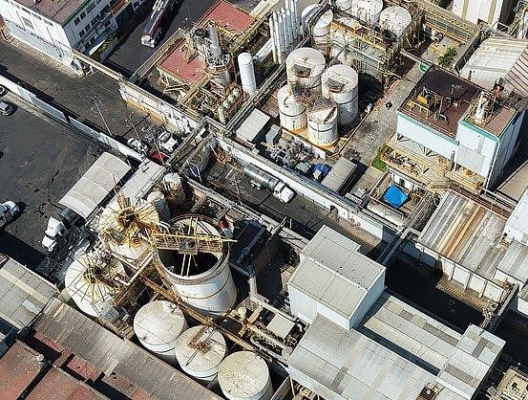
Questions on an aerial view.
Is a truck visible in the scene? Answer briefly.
Yes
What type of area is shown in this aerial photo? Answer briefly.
industrial area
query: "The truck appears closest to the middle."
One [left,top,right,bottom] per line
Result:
[245,164,293,206]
